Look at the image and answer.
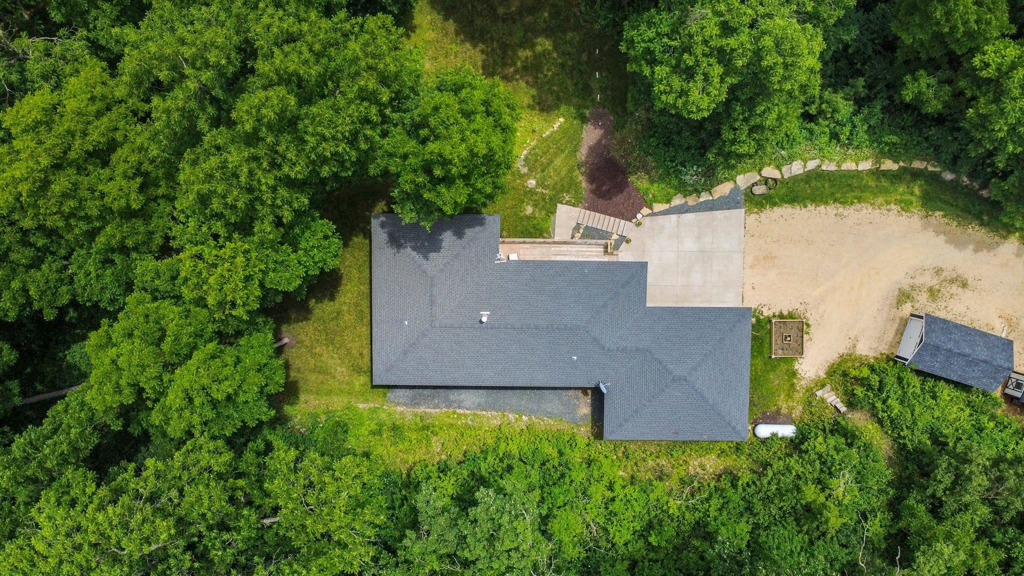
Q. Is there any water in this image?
No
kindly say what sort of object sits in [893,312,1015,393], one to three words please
shed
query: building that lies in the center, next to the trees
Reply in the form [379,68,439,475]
[371,213,753,442]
